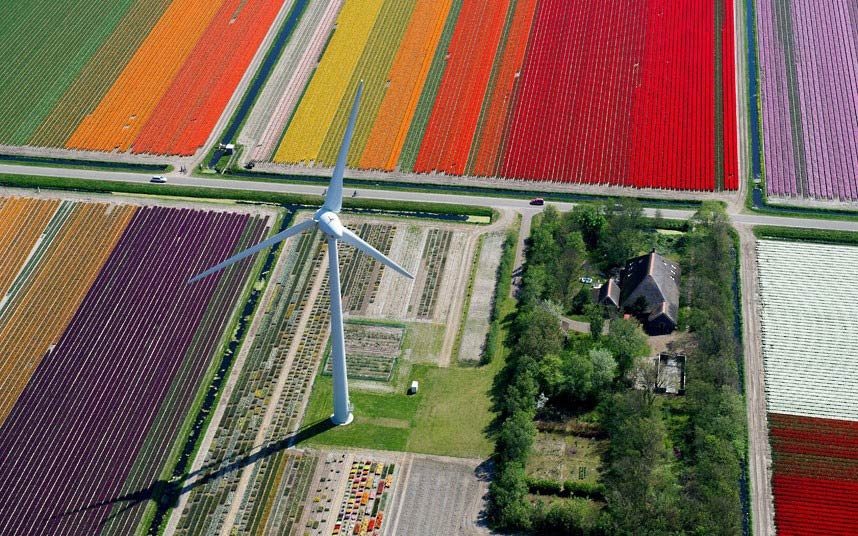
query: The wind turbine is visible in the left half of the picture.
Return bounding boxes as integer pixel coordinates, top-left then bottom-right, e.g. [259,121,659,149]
[191,85,412,429]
